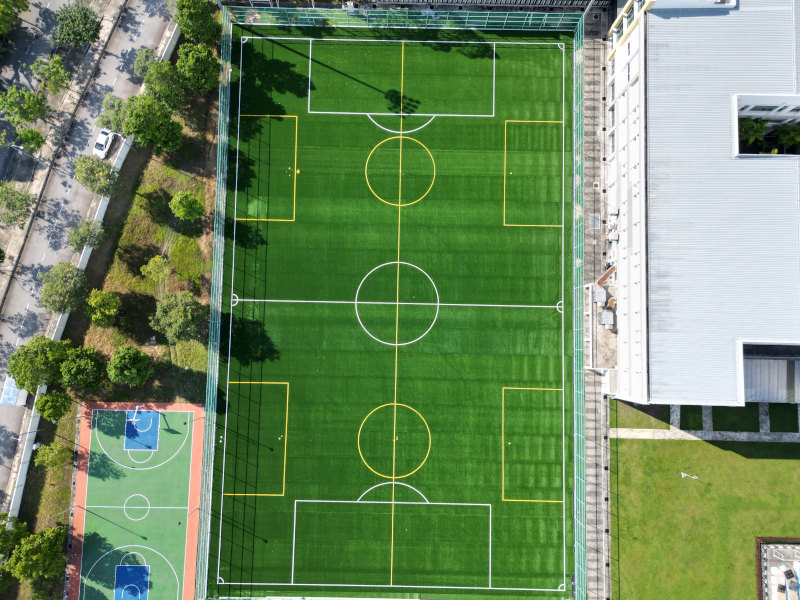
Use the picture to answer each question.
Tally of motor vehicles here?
1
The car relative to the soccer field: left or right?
on the left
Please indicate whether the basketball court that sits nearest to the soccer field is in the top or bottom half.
bottom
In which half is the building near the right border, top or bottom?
top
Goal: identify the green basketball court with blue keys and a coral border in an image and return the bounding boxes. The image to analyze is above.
[68,402,206,600]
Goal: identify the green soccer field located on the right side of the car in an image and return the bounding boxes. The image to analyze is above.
[204,21,577,600]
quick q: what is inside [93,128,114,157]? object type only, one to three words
car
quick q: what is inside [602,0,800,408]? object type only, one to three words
building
